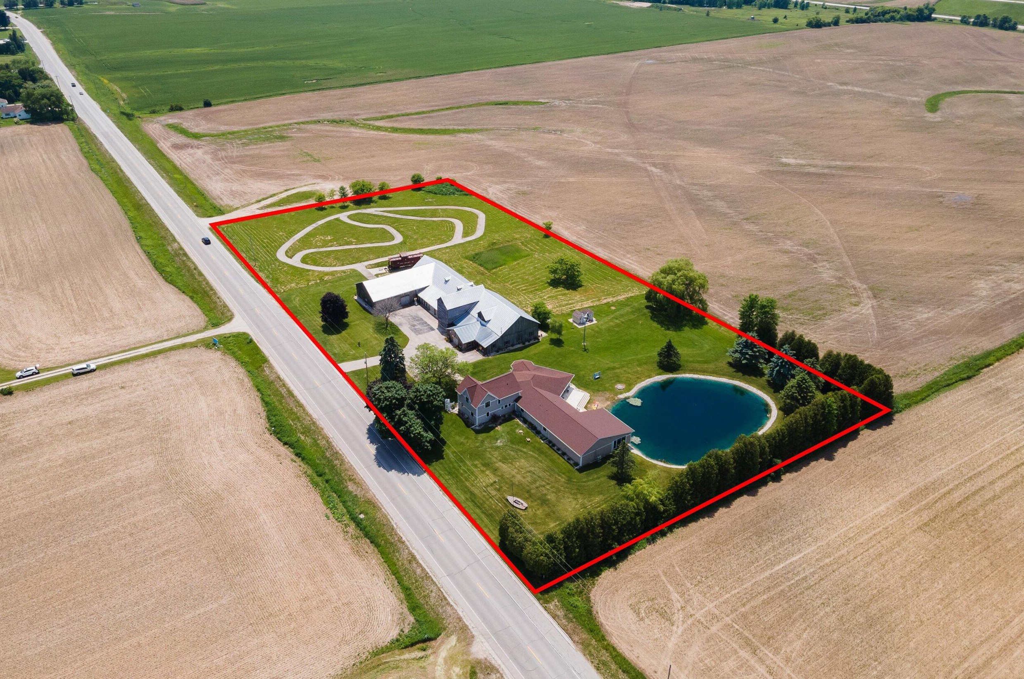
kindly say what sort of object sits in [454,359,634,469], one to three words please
house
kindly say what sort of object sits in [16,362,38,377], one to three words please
car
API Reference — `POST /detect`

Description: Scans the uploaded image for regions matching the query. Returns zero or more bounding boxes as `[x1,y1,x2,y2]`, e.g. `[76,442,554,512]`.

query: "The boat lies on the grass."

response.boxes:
[509,496,529,512]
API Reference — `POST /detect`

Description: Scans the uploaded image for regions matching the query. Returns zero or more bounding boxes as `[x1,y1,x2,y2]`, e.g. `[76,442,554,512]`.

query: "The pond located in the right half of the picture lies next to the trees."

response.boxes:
[608,377,771,465]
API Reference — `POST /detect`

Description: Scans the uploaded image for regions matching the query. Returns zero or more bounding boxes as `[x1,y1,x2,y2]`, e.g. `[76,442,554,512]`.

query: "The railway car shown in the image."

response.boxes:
[387,251,420,269]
